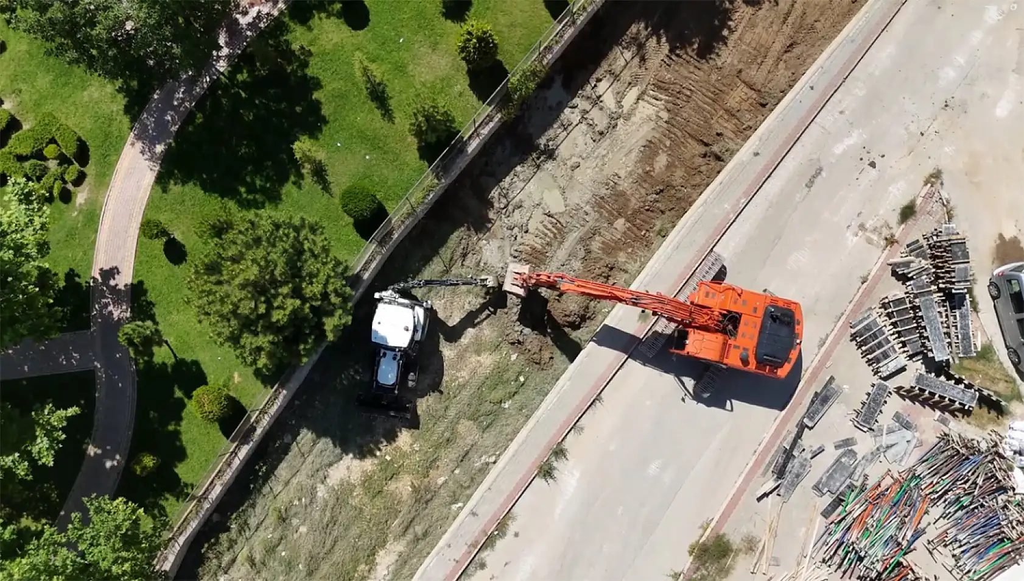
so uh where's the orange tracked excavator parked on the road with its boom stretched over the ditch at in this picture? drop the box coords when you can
[507,253,802,399]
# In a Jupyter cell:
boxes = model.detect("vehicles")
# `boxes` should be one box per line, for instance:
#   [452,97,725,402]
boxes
[985,259,1024,370]
[360,275,499,412]
[507,253,802,399]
